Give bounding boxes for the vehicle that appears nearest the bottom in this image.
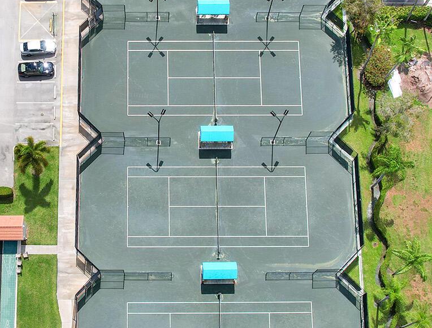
[18,63,53,80]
